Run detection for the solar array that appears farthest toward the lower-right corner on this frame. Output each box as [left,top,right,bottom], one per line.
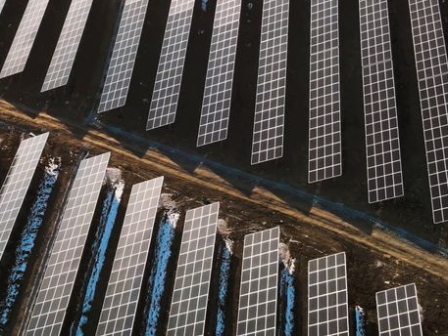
[376,284,419,336]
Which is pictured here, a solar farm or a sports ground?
solar farm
